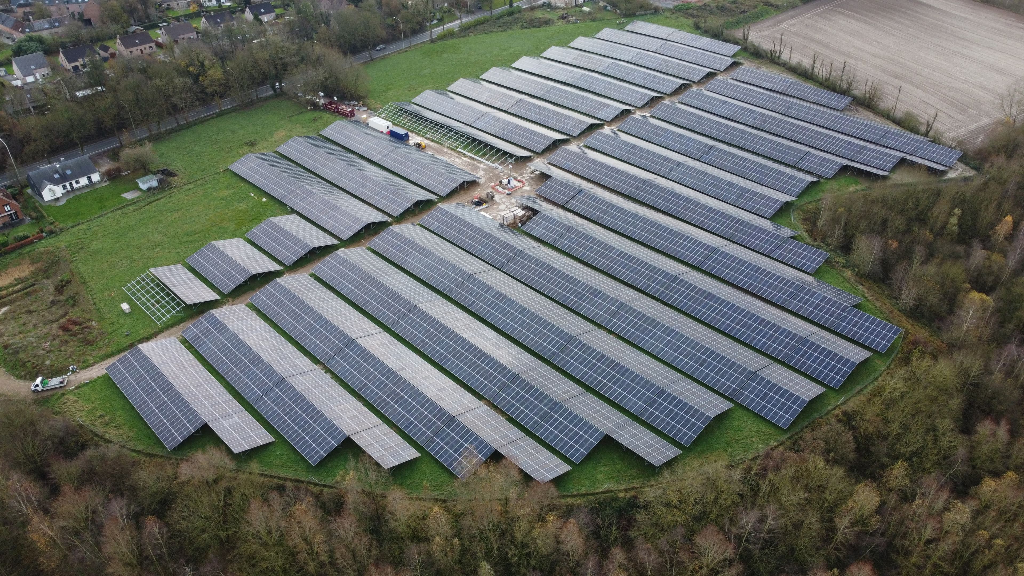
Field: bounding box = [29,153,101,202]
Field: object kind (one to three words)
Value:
house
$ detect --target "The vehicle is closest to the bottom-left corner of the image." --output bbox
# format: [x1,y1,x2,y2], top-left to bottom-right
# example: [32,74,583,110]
[26,376,70,393]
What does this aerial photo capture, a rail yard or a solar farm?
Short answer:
solar farm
